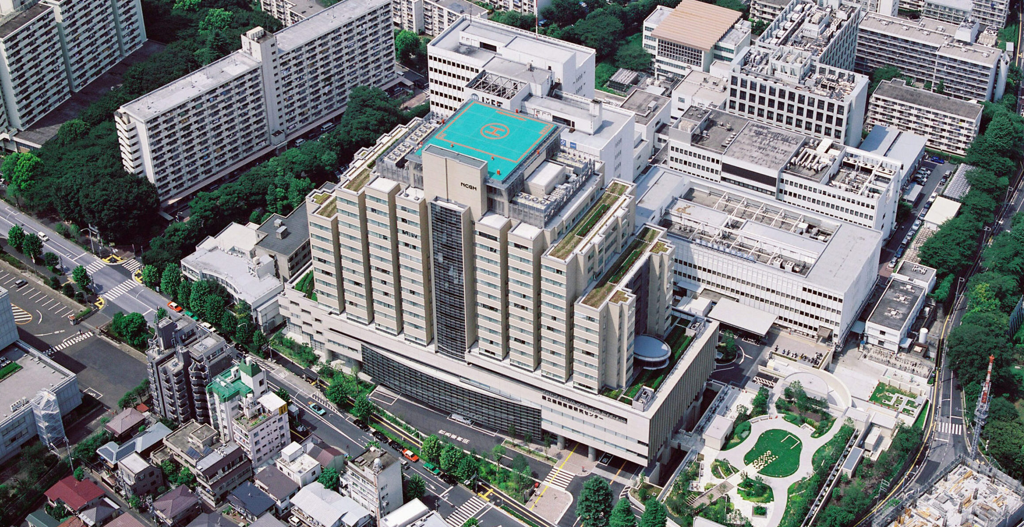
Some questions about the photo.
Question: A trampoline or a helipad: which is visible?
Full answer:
Visible in the photo is a helipad.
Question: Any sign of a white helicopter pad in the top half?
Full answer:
No, no white helicopter pad appears in the top half.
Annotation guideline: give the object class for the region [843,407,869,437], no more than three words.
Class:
building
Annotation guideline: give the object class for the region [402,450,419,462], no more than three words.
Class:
vehicle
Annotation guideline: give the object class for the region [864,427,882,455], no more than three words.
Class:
house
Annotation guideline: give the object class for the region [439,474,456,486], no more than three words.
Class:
vehicle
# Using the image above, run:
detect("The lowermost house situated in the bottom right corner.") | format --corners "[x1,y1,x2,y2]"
[841,447,864,480]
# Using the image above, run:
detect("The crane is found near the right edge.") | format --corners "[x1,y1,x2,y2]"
[969,357,994,460]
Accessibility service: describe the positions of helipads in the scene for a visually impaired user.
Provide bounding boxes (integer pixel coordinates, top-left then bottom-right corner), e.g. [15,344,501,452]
[407,97,561,187]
